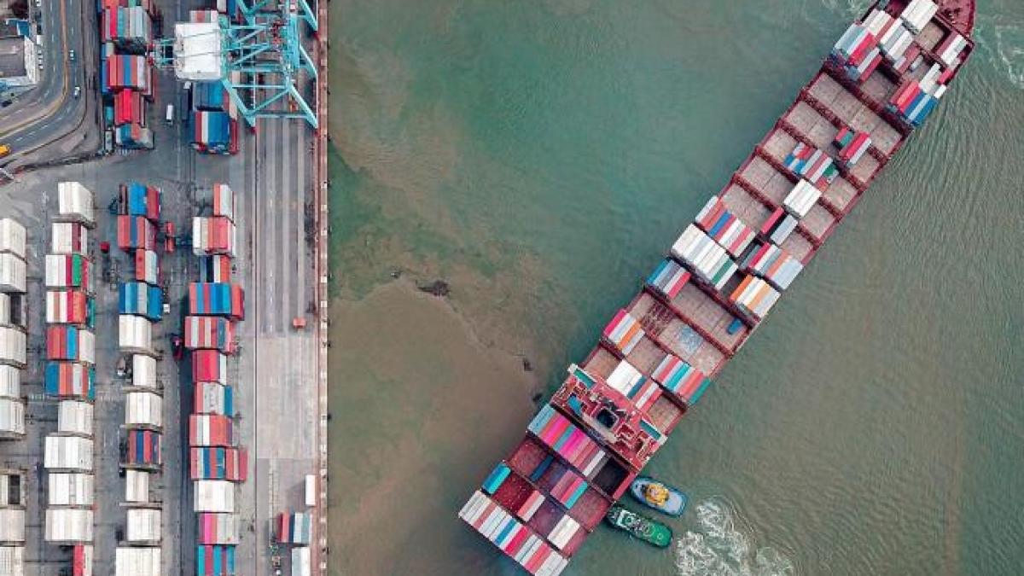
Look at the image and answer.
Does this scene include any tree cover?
No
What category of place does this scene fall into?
port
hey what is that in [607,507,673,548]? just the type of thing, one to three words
boat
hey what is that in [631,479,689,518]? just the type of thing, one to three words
boat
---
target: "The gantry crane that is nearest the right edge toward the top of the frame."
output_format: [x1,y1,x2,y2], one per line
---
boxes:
[236,0,319,37]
